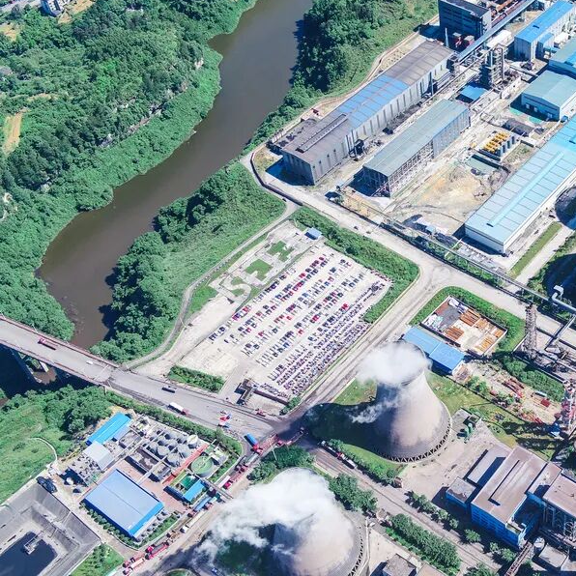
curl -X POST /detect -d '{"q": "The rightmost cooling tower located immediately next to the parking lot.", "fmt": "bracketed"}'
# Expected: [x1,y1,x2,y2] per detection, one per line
[359,344,453,472]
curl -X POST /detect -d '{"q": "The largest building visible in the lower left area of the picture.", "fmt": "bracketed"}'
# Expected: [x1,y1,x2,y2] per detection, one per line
[83,468,169,542]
